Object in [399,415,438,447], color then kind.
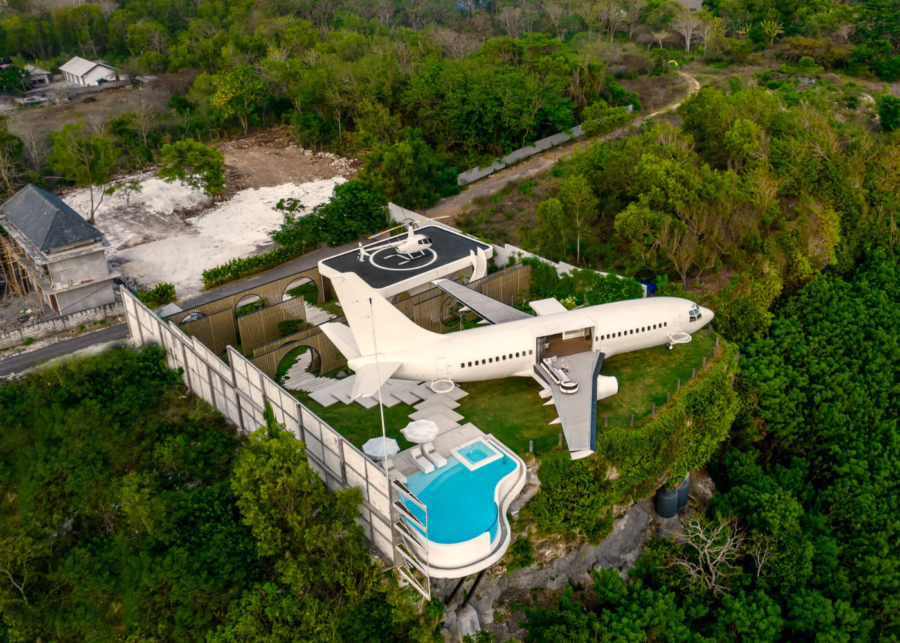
white umbrella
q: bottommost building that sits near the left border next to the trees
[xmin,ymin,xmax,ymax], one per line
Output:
[0,187,121,314]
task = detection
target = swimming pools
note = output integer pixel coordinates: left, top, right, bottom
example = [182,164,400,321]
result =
[398,435,527,603]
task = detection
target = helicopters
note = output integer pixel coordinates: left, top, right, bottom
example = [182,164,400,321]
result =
[356,217,449,264]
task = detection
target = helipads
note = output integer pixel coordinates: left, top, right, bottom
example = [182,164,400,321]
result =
[323,225,489,314]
